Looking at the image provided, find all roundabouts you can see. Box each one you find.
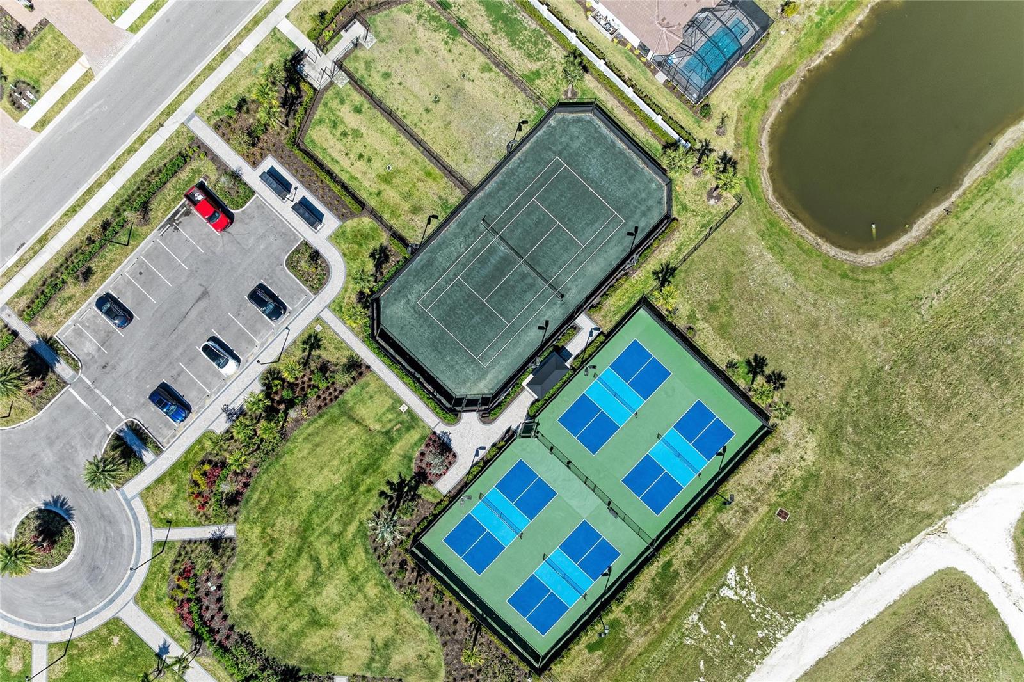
[0,450,152,643]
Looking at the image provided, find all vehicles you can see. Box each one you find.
[93,294,130,330]
[183,185,230,234]
[248,284,285,320]
[148,385,187,422]
[199,339,236,376]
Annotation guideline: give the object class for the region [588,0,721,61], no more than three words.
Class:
house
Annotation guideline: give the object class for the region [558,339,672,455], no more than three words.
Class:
sports court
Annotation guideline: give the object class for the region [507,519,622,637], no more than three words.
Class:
sports court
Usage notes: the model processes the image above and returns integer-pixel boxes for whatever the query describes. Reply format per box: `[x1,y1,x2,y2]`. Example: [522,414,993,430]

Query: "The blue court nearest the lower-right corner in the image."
[621,400,736,516]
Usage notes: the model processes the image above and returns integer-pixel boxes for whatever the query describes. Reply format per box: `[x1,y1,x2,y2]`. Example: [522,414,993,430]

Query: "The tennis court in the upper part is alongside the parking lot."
[374,108,668,409]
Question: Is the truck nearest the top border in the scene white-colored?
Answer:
No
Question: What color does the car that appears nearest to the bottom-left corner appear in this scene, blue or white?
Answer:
blue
